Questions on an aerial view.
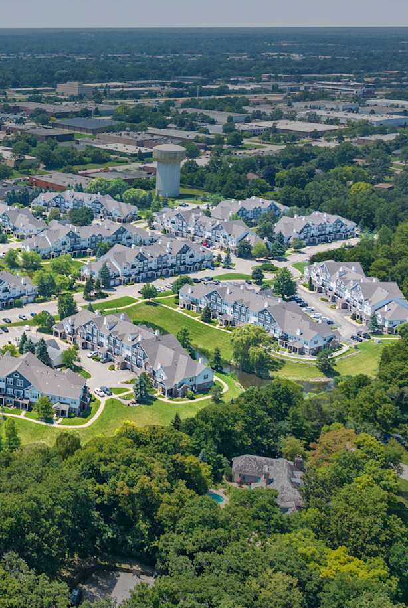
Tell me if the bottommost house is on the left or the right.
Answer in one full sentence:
The bottommost house is on the right side of the image.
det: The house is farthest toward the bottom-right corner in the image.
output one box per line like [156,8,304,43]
[229,446,314,527]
